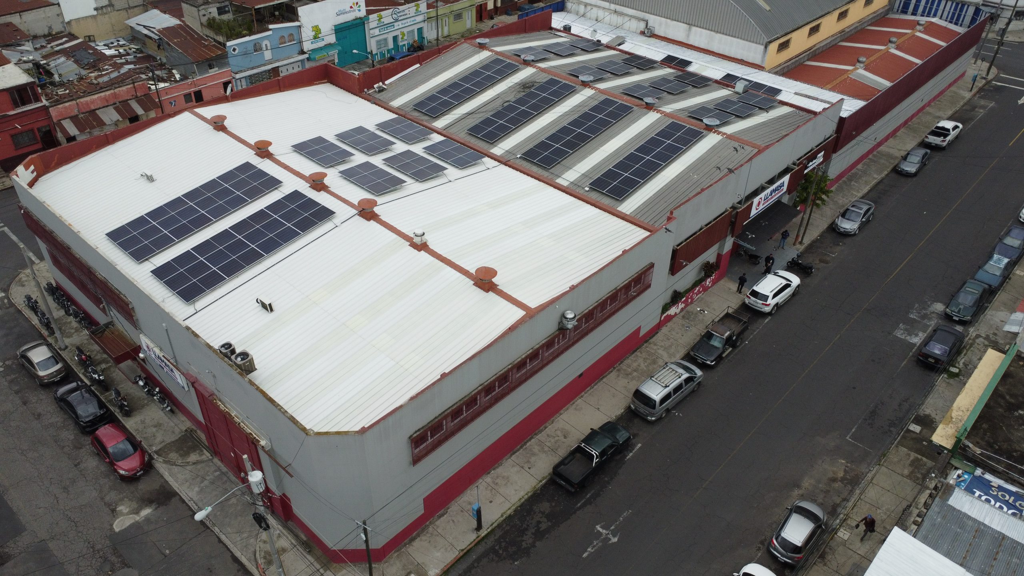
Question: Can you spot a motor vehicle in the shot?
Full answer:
Yes, this view includes a motor vehicle.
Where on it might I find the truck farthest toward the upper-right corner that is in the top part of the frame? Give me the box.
[920,121,961,152]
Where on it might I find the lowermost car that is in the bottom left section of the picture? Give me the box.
[88,421,159,487]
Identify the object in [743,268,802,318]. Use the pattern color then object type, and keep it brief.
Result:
white car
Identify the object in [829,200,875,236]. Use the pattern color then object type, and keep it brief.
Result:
gray car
